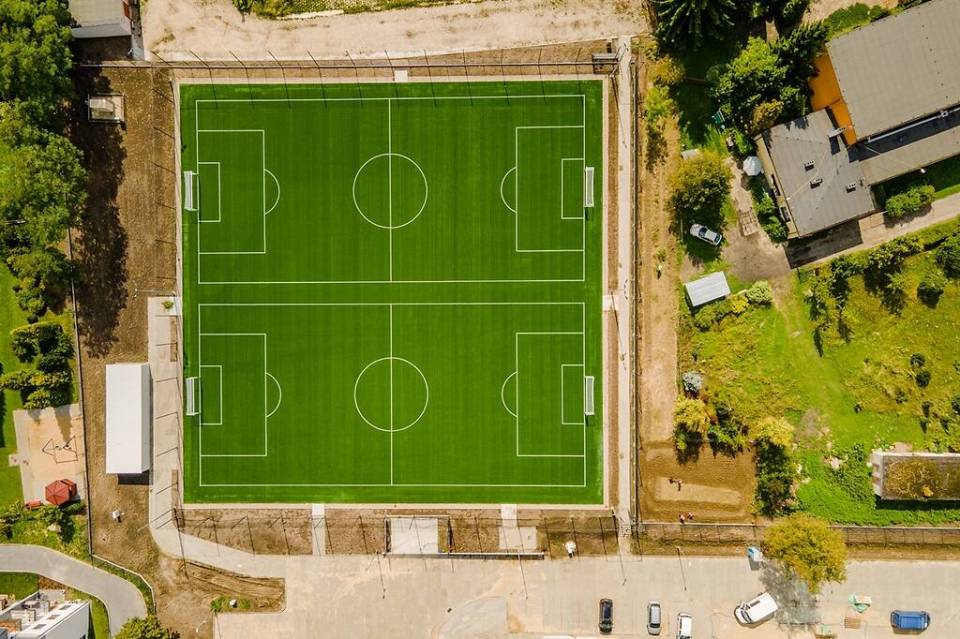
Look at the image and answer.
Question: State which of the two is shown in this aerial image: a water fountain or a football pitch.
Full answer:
Visible in the photo is a football pitch.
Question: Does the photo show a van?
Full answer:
Yes, a van appears in the view.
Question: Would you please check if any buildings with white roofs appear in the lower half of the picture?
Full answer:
Yes, looking in the lower half of the picture, one can make out a building with a white roof.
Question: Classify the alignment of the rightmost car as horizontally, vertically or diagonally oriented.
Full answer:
The rightmost car has been laid out horizontally relative to the frame.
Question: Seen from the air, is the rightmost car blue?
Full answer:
Yes, blue is the color of the rightmost car.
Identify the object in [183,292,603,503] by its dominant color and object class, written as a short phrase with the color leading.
green soccer field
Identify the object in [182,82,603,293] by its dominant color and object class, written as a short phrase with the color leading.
green soccer field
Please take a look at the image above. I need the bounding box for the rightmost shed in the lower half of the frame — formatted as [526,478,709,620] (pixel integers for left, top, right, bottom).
[870,452,960,499]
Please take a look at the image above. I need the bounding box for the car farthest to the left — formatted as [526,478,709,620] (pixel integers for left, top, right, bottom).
[598,597,614,632]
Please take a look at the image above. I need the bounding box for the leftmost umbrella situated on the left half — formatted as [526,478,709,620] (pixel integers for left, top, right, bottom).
[47,479,73,504]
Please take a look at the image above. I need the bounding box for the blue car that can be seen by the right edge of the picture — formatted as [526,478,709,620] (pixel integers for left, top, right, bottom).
[890,610,927,630]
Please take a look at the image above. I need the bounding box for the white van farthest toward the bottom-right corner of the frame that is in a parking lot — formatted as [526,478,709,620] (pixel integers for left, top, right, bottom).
[737,593,776,624]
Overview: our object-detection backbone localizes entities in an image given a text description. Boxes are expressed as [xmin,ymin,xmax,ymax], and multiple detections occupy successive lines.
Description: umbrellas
[47,479,73,504]
[743,157,760,174]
